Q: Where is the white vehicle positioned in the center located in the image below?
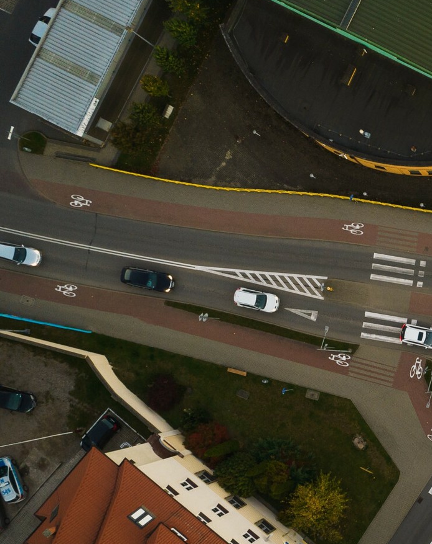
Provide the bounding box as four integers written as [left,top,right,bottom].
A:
[232,289,282,312]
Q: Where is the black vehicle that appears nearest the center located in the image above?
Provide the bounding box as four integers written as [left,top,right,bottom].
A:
[121,268,177,293]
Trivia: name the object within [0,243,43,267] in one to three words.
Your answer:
car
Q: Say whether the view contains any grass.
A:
Yes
